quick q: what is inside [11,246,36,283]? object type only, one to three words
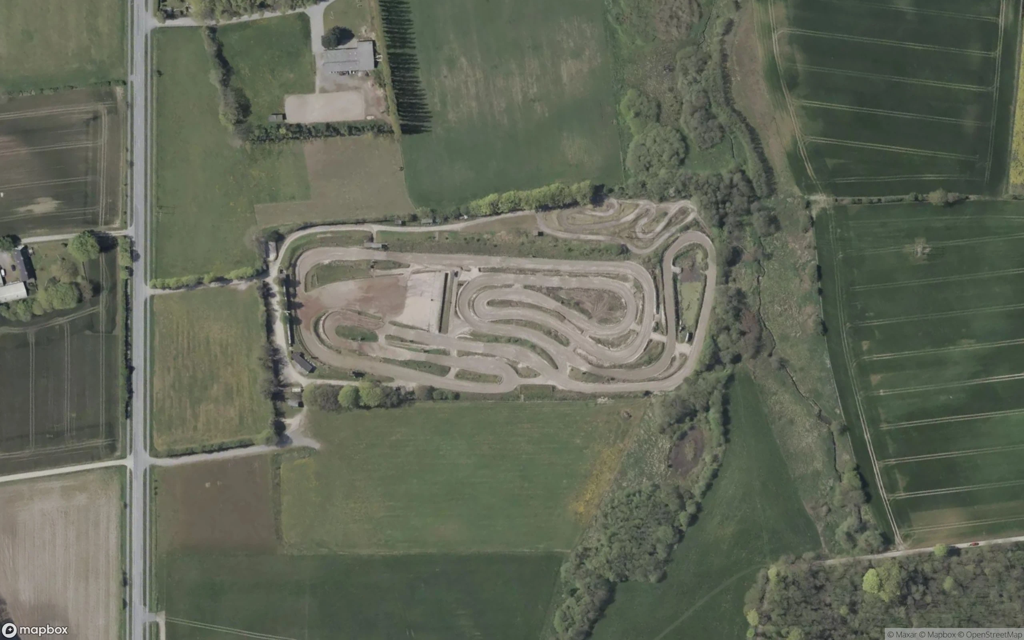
house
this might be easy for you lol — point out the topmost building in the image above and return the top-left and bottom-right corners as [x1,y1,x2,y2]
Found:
[322,40,374,71]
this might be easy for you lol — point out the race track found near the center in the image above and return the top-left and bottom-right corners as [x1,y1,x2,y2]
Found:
[296,231,701,393]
